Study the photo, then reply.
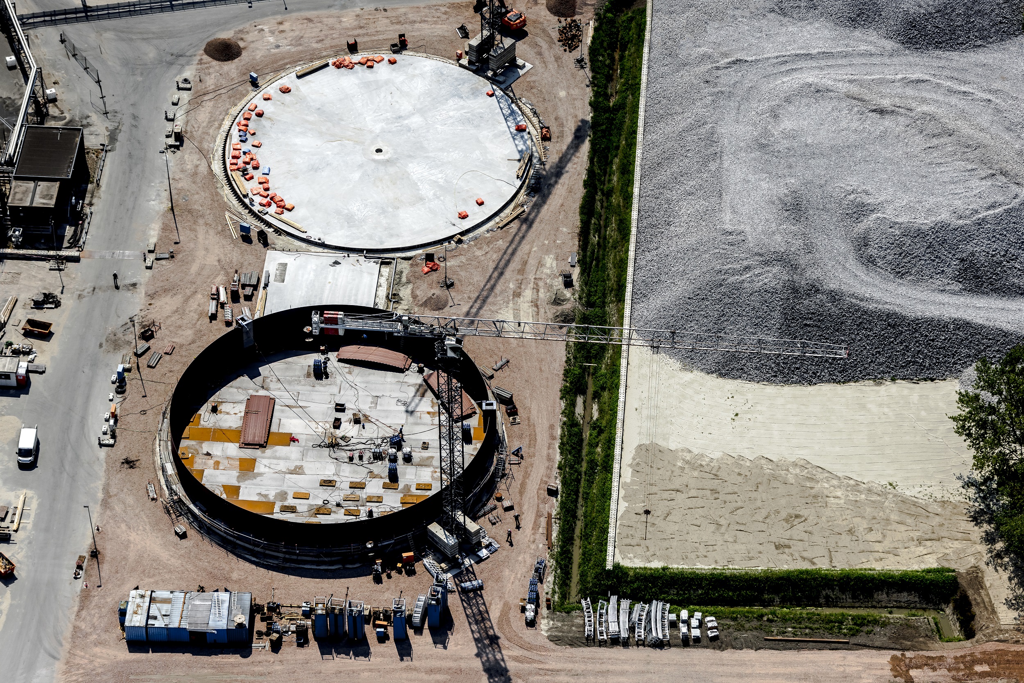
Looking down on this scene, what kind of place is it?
industrial area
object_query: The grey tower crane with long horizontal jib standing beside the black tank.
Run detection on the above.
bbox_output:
[311,301,849,575]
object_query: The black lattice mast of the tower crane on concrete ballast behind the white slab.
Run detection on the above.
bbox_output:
[458,0,534,89]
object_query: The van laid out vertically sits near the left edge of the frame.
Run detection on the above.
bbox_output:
[10,427,39,476]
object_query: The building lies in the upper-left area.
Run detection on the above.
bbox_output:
[6,123,86,241]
